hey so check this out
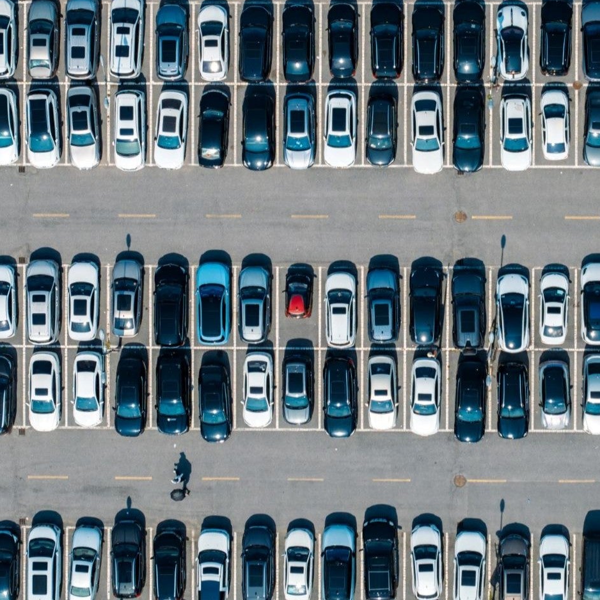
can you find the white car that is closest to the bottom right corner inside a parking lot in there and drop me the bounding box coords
[536,533,574,600]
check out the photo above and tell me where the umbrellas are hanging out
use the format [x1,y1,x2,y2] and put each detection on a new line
[173,486,188,502]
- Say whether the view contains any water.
No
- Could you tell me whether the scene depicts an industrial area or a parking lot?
parking lot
